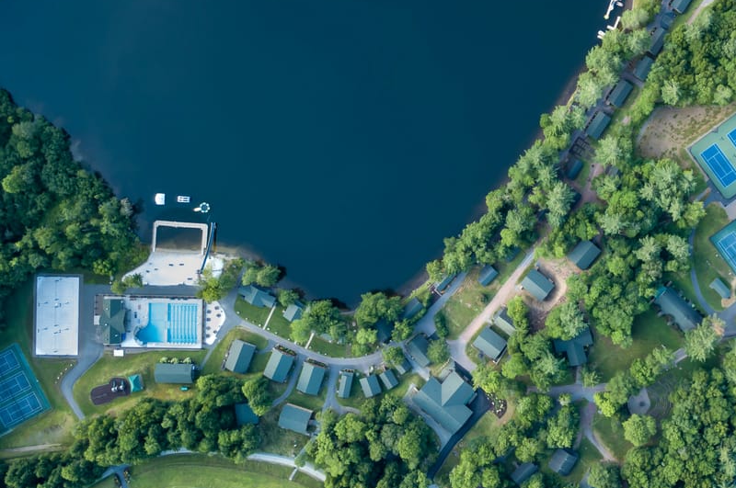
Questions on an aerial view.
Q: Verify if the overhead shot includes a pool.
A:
Yes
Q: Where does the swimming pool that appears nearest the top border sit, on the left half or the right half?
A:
left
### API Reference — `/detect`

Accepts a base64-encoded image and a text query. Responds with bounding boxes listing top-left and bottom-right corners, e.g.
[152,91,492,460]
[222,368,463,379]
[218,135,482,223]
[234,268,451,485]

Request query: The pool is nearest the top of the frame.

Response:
[102,296,203,349]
